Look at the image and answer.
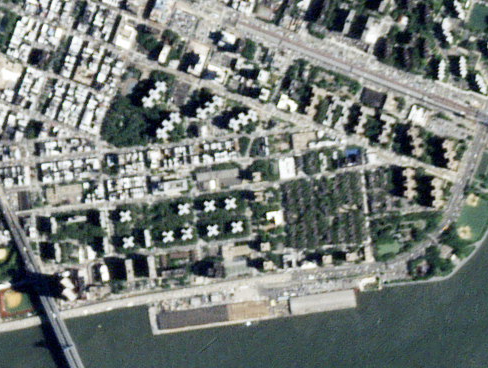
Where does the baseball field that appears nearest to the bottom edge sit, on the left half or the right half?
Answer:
left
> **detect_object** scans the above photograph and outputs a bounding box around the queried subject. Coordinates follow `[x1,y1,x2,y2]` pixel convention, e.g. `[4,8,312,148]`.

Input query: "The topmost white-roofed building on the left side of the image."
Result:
[151,0,174,24]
